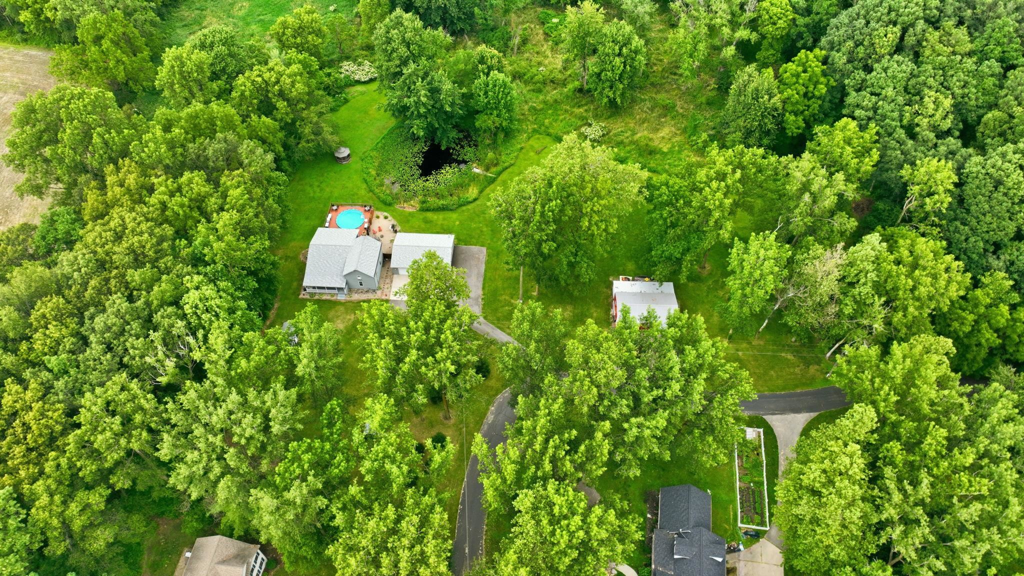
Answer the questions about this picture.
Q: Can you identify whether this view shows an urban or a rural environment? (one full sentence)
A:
This place is rural.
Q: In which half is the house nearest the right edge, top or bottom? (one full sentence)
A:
The house nearest the right edge is in the bottom half of the image.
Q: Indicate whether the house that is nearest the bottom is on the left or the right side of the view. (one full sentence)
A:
The house that is nearest the bottom appears in the left half of the scene.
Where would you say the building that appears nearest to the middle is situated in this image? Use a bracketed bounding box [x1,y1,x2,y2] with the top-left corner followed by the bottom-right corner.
[390,233,456,276]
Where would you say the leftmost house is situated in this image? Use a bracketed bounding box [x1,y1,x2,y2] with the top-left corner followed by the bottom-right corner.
[182,537,262,576]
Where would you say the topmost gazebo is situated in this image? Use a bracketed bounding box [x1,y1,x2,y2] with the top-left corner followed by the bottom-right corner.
[331,140,350,159]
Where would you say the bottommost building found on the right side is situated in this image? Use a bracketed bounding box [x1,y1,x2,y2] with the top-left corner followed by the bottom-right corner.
[648,485,730,576]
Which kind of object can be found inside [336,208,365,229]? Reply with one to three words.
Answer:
swimming pool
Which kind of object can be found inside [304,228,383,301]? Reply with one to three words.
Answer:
house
